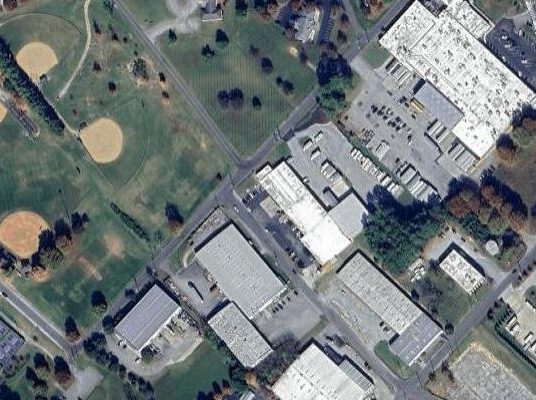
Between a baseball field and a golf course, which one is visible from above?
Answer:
baseball field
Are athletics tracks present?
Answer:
No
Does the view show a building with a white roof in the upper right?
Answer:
Yes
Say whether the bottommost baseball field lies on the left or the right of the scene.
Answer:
left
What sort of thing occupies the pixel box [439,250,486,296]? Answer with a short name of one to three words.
building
